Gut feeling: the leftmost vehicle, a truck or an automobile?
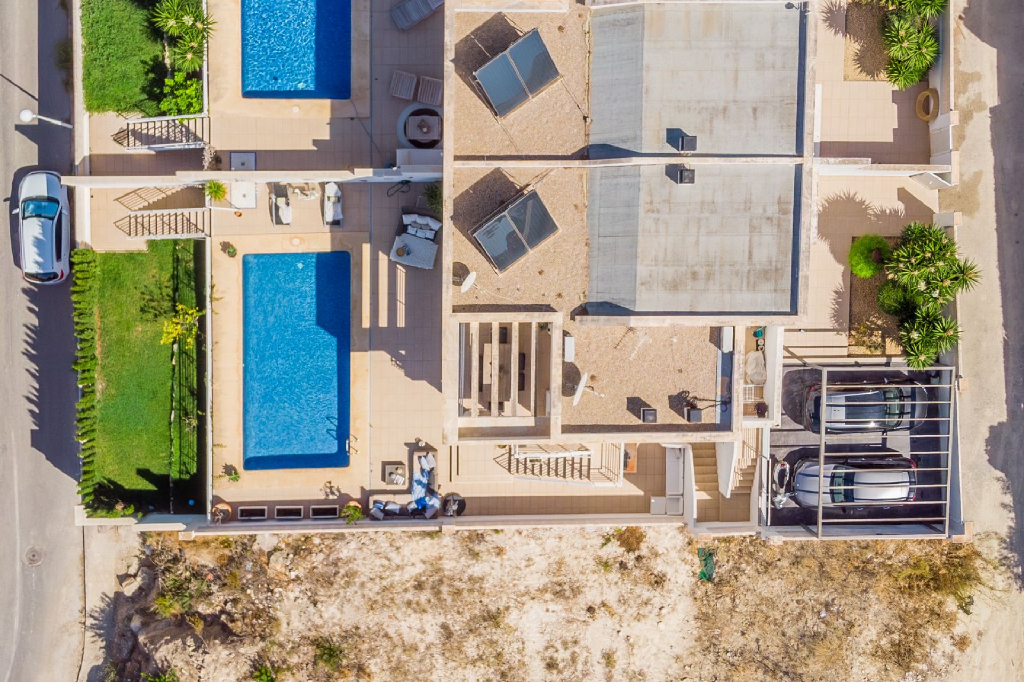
automobile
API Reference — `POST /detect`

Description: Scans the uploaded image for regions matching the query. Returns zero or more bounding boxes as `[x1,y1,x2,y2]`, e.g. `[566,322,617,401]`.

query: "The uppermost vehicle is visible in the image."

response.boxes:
[11,172,74,283]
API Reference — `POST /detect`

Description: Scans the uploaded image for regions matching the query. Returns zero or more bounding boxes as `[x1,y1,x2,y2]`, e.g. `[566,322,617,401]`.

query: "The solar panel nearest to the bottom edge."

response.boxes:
[472,186,558,273]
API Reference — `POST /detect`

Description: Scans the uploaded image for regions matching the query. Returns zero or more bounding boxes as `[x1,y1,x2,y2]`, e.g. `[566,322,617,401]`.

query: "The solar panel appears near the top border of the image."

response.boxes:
[472,25,560,119]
